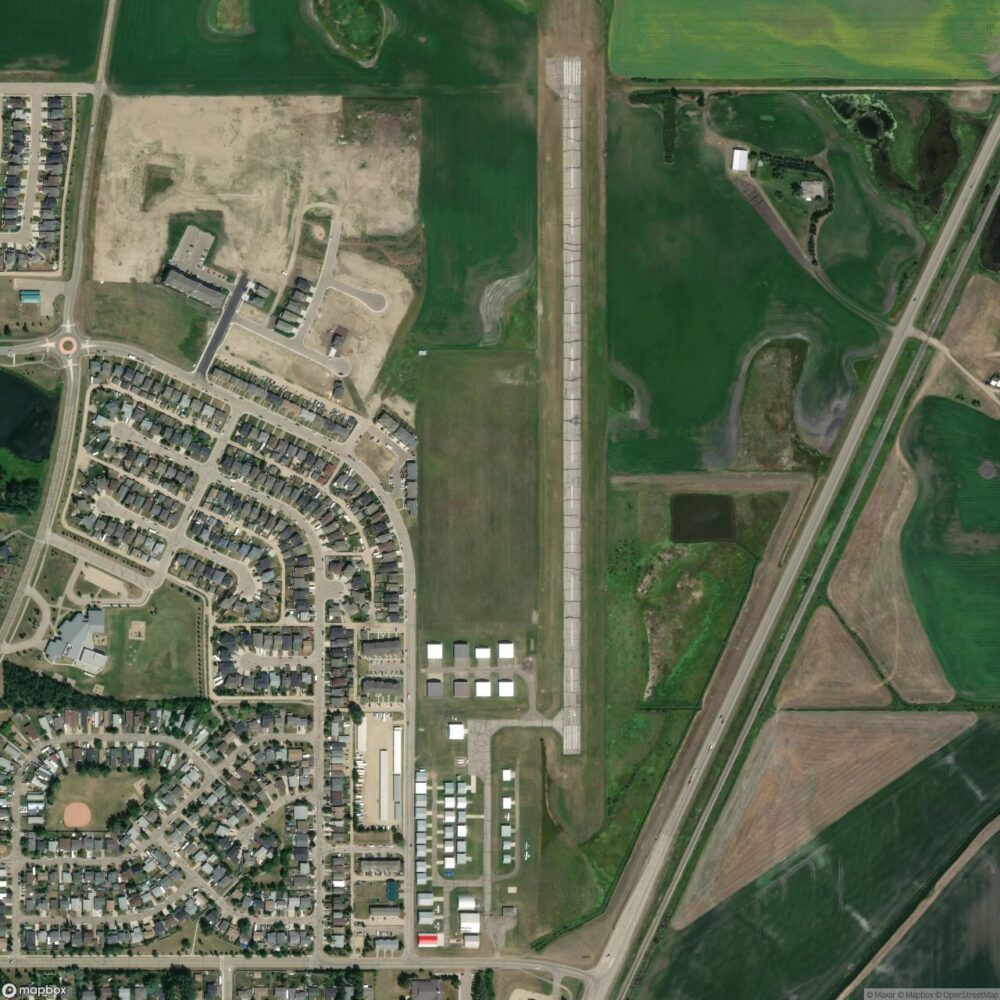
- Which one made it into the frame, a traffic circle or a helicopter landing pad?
traffic circle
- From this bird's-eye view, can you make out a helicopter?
No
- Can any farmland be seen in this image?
Yes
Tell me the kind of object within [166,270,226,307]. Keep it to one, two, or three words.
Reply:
building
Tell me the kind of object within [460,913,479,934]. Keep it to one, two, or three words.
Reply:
hangar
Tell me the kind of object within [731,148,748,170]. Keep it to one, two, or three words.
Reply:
barn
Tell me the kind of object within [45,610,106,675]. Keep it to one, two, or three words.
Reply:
building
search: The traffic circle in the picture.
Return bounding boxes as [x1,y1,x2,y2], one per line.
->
[41,320,94,390]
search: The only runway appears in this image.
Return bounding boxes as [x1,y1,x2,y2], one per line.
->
[546,57,580,754]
